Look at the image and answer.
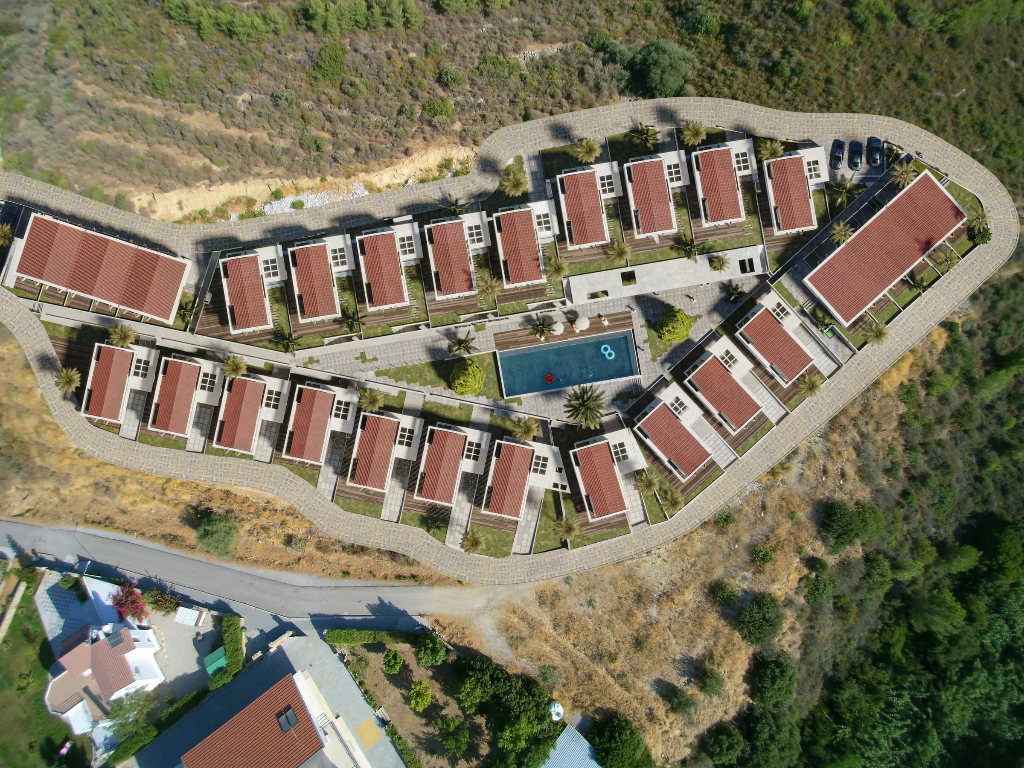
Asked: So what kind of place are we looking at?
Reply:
residential area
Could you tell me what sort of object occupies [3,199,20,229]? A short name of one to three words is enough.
car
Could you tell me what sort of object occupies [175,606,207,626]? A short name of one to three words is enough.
shed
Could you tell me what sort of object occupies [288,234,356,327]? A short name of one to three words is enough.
house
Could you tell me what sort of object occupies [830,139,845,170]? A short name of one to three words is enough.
car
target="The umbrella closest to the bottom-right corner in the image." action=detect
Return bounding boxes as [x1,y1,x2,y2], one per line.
[549,704,564,719]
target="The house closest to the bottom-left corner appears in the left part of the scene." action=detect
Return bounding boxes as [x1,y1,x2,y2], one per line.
[45,621,169,753]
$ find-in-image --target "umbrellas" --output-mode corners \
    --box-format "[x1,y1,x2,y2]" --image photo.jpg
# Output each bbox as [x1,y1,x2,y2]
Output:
[551,322,564,335]
[549,704,564,719]
[576,316,590,330]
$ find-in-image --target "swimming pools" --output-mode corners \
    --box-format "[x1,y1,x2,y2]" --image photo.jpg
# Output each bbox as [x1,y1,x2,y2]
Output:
[500,339,631,397]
